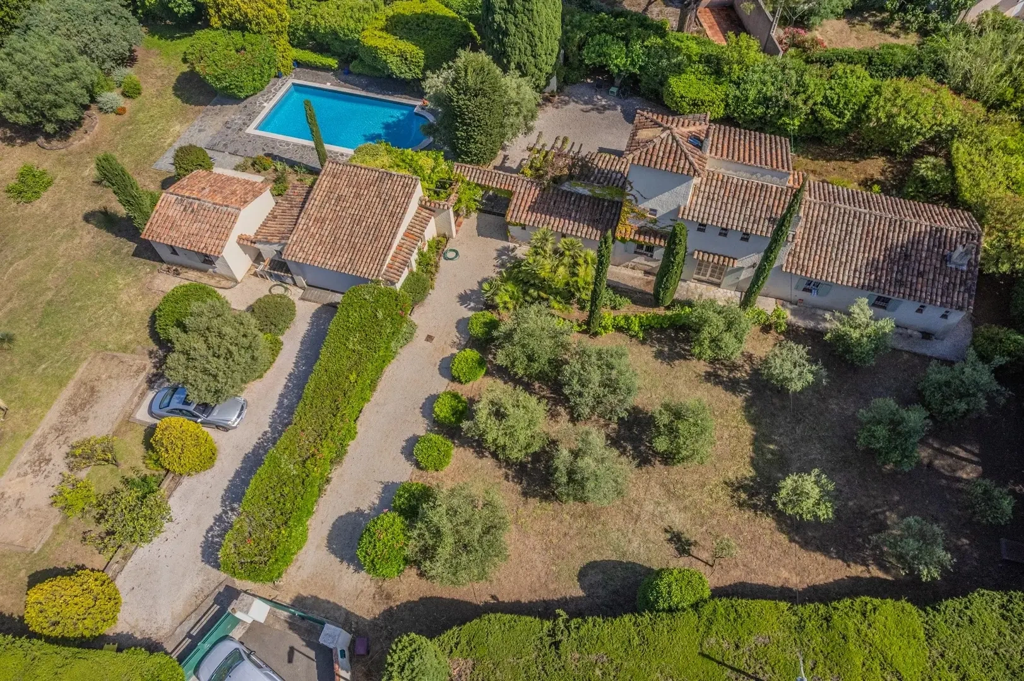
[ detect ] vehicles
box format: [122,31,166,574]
[143,388,255,437]
[197,641,271,681]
